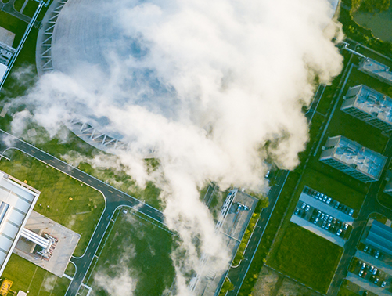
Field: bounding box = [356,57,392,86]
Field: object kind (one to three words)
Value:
building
